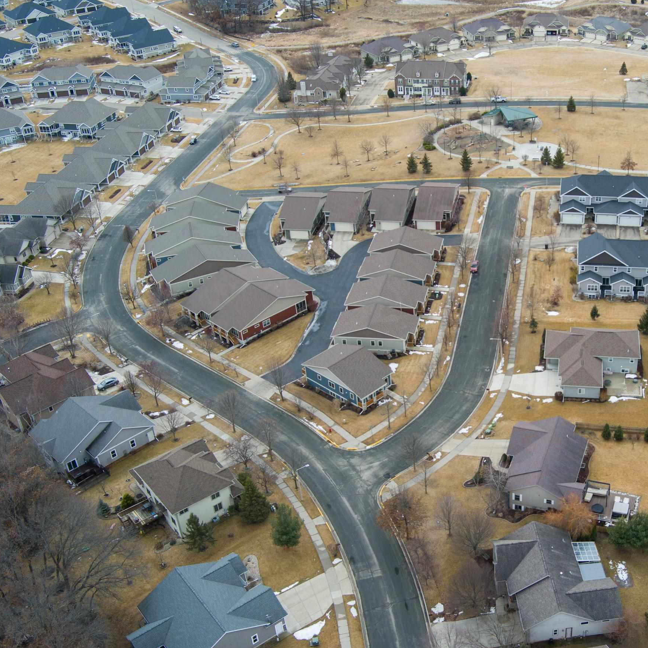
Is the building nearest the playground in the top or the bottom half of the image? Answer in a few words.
top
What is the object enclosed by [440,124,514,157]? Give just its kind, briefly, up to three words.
playground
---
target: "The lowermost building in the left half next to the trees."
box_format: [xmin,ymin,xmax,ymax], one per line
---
[124,551,285,648]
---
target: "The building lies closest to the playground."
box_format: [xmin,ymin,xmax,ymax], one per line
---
[484,106,537,129]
